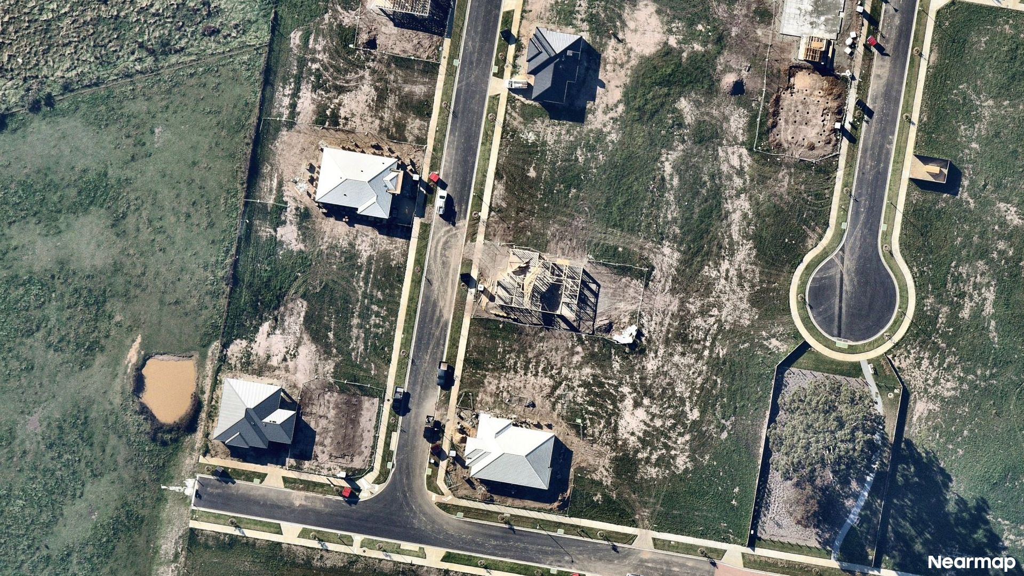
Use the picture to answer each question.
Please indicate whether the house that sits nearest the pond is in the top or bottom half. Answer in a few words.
bottom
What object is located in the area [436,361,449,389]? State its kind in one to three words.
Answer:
vehicle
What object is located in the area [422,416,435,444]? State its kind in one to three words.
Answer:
vehicle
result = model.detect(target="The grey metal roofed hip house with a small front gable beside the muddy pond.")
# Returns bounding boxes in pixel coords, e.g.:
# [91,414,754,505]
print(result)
[214,378,296,449]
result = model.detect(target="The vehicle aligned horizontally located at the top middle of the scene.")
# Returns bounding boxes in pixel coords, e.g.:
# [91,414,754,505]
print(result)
[504,78,529,90]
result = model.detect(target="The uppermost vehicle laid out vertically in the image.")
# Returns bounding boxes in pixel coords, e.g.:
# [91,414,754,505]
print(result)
[434,189,447,216]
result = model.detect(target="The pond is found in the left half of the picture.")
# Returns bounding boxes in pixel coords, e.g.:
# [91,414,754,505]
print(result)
[140,355,198,424]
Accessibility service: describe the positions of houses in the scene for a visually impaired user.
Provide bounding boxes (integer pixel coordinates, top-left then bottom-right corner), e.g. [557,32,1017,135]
[369,0,431,16]
[464,412,555,490]
[214,378,296,449]
[315,147,403,218]
[526,27,582,104]
[495,249,583,318]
